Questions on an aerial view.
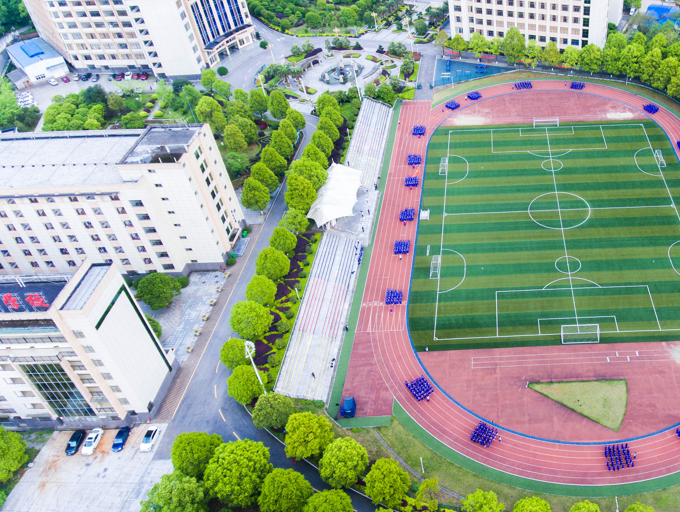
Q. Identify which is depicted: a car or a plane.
car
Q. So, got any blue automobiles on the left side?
Yes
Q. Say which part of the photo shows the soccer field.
right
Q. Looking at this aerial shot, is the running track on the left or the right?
right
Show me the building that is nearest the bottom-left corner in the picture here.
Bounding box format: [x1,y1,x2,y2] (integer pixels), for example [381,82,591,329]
[0,263,185,428]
